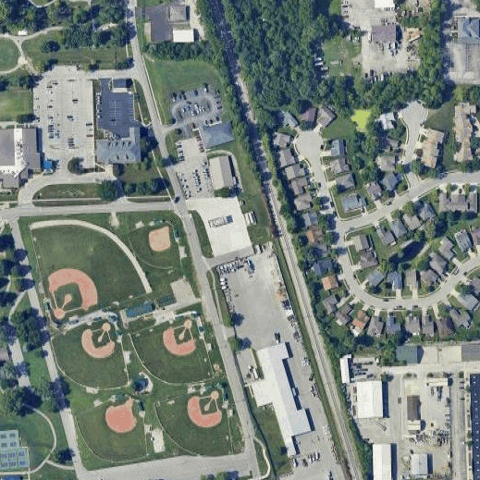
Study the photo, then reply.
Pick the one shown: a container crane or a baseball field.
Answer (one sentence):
There is a baseball field in the scene.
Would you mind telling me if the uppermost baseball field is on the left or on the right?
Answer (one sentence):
It is on the left.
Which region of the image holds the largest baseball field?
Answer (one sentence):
The largest baseball field appears toward the left of the photo.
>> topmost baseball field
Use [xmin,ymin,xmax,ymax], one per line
[129,220,186,270]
